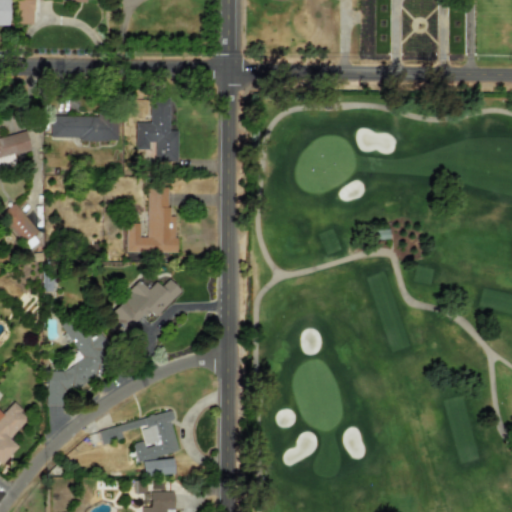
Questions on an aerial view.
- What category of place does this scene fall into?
golf course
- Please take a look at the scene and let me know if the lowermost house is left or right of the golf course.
left of it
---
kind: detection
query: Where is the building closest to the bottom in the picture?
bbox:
[134,482,176,512]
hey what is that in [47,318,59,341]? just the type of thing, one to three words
swimming pool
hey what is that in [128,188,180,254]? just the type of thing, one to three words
house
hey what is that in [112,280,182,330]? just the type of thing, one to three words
house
